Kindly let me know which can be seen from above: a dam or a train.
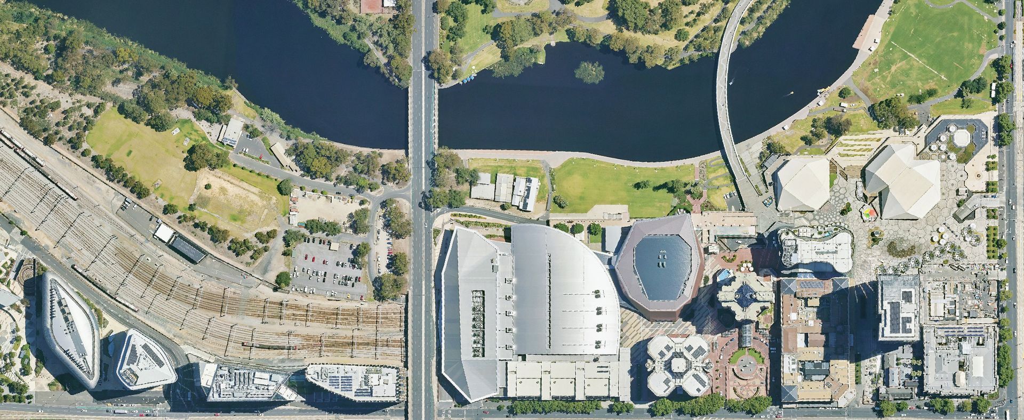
train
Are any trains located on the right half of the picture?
No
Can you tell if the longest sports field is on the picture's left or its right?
left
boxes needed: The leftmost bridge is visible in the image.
[408,0,439,420]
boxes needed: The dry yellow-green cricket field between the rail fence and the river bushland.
[87,107,291,240]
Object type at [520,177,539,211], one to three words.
shed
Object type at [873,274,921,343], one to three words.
building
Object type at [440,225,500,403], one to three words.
building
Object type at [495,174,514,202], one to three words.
shed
